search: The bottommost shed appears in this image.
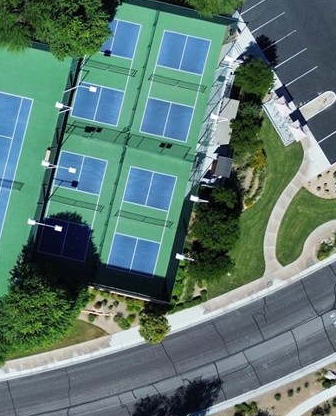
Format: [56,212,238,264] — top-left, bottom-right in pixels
[207,156,233,178]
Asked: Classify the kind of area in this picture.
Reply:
sports ground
